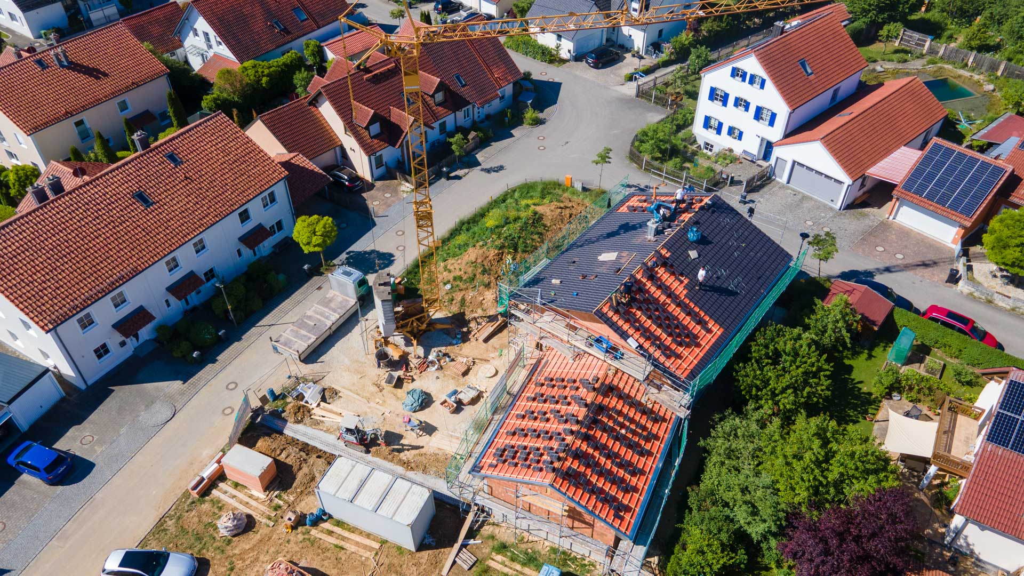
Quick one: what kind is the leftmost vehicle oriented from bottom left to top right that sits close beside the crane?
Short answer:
truck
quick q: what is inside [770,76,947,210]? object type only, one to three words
building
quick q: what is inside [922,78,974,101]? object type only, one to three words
swimming pool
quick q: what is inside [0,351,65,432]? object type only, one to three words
building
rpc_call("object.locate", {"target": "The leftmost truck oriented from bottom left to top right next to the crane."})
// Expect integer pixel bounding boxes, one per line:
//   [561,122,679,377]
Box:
[266,270,365,371]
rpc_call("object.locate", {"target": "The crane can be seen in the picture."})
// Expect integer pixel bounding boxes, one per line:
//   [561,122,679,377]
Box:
[338,0,834,358]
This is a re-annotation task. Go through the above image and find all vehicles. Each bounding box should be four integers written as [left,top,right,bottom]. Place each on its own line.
[266,270,365,371]
[330,167,368,196]
[339,407,396,450]
[853,274,917,316]
[464,10,496,19]
[435,0,463,15]
[4,445,78,489]
[585,47,619,68]
[100,547,201,576]
[923,308,994,348]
